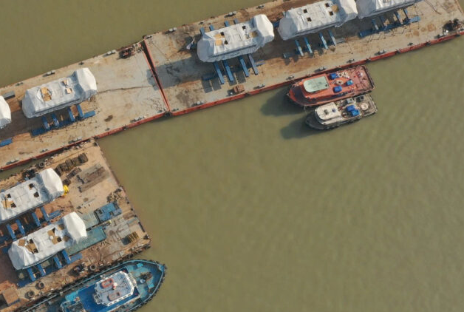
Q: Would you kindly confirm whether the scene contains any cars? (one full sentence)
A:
No, I can see no car in this picture.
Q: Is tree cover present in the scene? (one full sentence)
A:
No, tree cover can't be seen anywhere here.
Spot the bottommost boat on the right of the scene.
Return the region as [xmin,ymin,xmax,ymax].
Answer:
[304,95,377,131]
